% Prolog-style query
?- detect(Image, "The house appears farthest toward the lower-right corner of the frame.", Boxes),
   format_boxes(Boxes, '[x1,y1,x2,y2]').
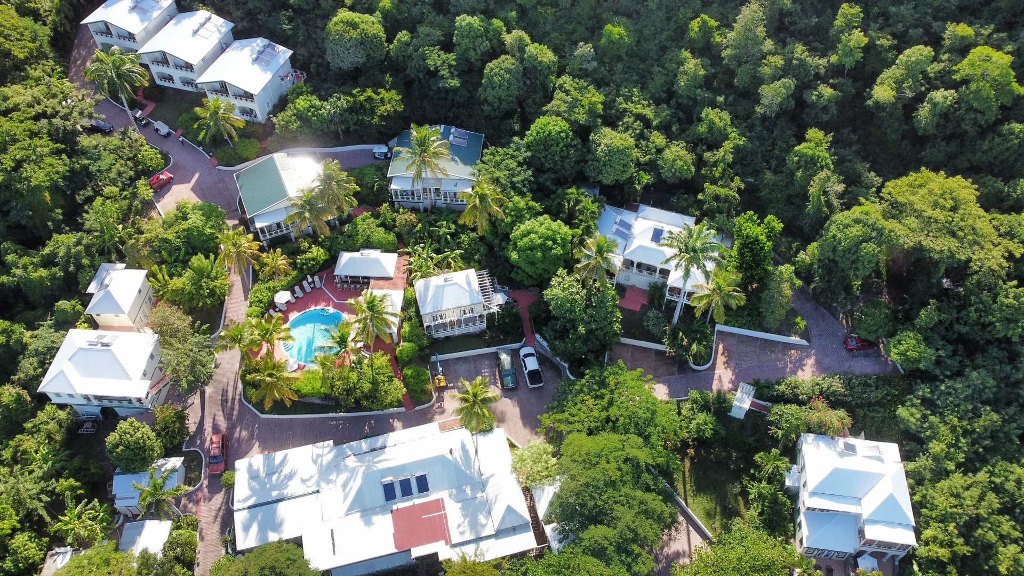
[775,433,918,576]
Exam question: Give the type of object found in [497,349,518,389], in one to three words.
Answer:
car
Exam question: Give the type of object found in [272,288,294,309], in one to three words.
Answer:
umbrella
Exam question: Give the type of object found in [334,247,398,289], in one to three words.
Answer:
building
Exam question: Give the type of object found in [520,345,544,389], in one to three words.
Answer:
truck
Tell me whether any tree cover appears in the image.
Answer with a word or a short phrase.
Yes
